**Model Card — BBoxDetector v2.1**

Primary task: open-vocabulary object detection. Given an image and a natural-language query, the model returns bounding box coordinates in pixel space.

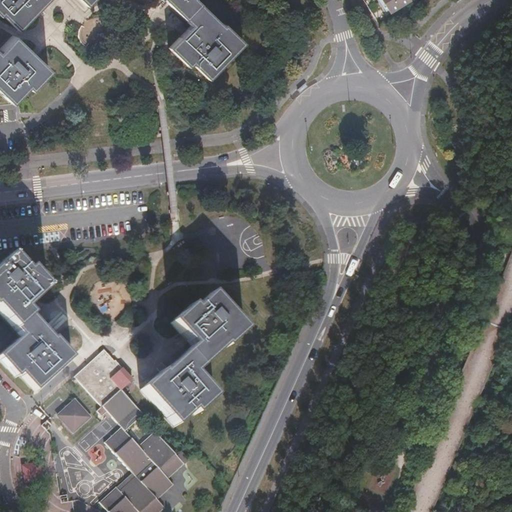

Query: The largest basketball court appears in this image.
[188,216,269,279]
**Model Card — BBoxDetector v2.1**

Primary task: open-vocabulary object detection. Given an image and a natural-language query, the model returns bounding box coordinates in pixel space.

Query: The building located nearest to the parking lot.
[0,248,78,388]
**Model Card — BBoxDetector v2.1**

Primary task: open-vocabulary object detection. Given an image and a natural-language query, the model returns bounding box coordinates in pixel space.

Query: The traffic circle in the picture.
[280,72,422,216]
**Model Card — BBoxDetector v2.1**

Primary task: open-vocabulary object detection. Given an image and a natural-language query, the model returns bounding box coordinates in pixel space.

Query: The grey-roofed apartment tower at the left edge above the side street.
[0,40,54,106]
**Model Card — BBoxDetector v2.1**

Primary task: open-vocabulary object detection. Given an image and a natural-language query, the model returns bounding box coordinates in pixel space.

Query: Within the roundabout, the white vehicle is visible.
[390,169,404,189]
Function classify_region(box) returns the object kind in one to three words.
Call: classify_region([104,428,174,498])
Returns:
building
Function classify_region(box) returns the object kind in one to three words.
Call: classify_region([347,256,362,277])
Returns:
vehicle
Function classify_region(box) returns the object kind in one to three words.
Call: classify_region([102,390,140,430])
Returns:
building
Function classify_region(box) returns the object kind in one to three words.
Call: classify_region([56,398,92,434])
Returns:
house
